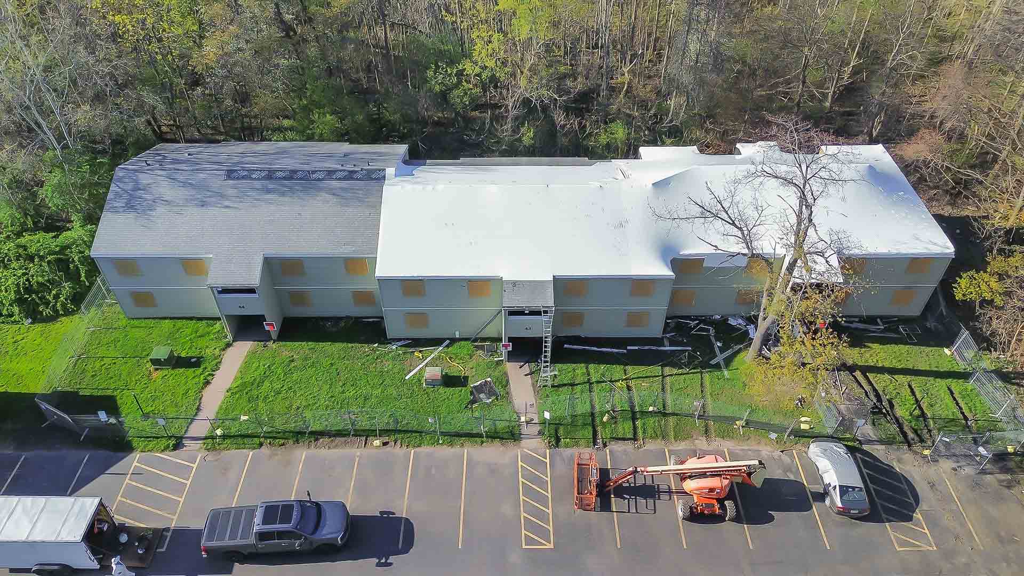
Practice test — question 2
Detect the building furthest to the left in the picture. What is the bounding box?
[90,142,405,340]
